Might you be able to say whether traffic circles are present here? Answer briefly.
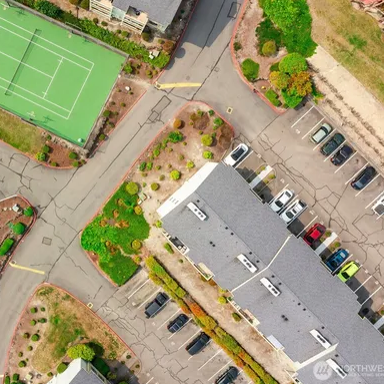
No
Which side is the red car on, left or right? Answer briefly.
right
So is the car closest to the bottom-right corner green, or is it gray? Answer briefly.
green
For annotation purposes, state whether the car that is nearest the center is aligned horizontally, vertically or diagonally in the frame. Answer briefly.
diagonally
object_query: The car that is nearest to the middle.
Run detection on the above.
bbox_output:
[223,142,250,168]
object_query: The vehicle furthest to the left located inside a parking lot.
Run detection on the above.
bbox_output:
[142,290,171,318]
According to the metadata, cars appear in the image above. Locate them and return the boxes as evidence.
[336,259,361,281]
[223,142,250,168]
[213,363,239,384]
[165,311,189,334]
[349,165,376,189]
[268,188,294,213]
[301,221,327,245]
[319,132,346,156]
[280,198,307,223]
[309,122,332,144]
[329,144,355,168]
[324,245,350,270]
[185,330,211,355]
